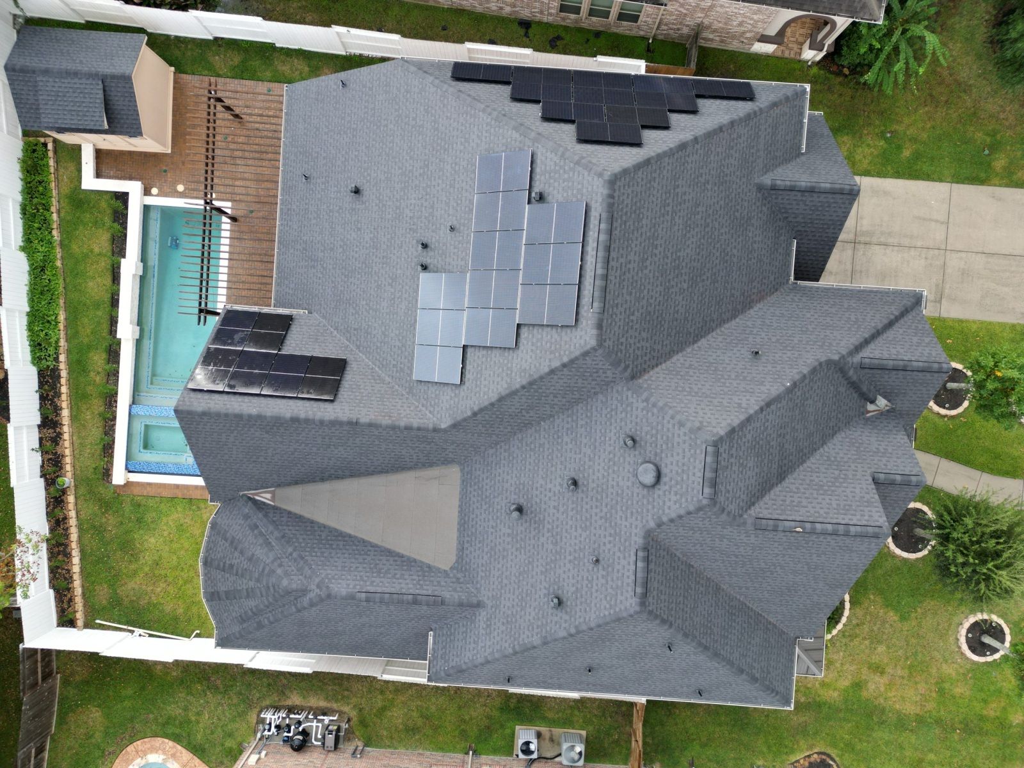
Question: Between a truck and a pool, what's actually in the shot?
pool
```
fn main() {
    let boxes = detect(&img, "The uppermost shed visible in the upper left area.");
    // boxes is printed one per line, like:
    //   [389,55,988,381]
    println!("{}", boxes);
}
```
[5,25,176,152]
